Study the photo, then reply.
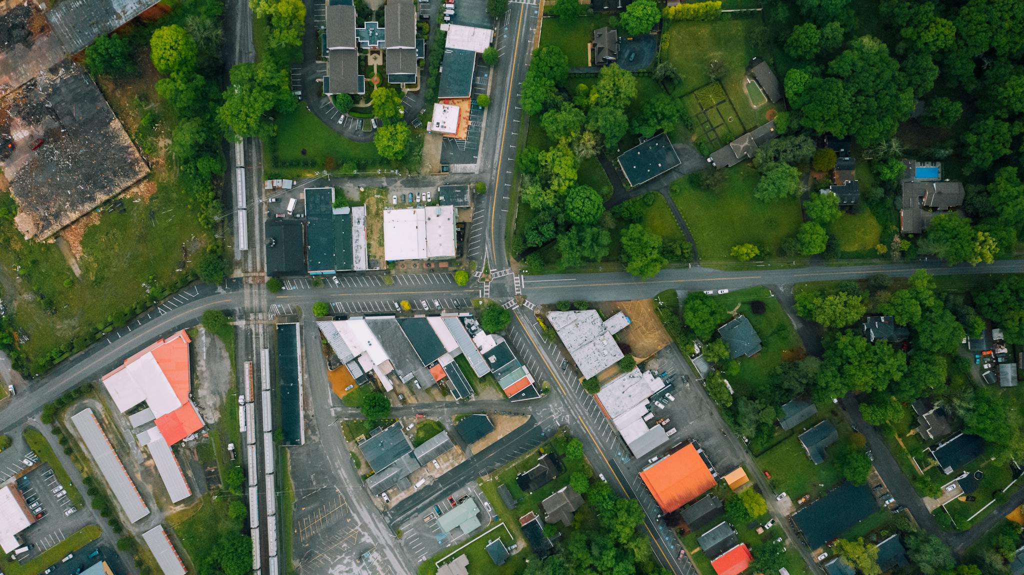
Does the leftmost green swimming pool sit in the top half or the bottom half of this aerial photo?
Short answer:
top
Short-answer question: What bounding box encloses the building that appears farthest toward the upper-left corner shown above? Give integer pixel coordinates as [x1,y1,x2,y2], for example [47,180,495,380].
[46,0,178,61]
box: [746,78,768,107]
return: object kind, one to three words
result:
swimming pool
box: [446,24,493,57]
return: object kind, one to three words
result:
building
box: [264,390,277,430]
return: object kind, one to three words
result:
rail car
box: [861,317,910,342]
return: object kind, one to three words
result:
house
